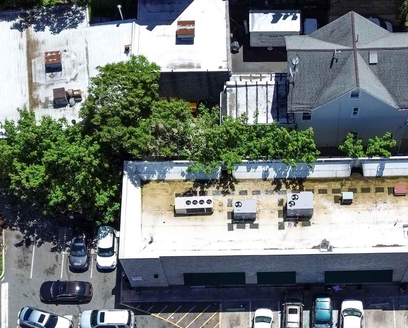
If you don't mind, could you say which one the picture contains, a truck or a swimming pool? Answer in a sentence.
The image shows a truck.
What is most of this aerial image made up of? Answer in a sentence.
What you mostly see from above here is buildings.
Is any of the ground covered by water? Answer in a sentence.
No, the scene doesn't show any water.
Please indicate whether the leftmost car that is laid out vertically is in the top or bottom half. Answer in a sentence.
Seen from above, the leftmost car that is laid out vertically lies in the bottom half of the view.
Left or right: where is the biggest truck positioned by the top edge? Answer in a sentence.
The biggest truck positioned by the top edge sits on the right side.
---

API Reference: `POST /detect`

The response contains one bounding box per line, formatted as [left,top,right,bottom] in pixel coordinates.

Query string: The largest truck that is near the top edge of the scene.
[247,10,318,53]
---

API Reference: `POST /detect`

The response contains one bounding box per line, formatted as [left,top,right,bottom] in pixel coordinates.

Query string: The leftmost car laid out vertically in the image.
[65,219,91,275]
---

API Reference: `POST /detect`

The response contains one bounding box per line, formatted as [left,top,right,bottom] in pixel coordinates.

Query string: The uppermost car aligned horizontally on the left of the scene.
[38,278,93,304]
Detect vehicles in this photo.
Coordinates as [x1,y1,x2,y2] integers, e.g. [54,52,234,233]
[338,299,365,328]
[92,224,119,274]
[279,293,306,328]
[78,308,136,328]
[15,307,75,328]
[309,296,335,328]
[247,10,318,53]
[65,219,91,275]
[38,278,93,304]
[249,307,275,328]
